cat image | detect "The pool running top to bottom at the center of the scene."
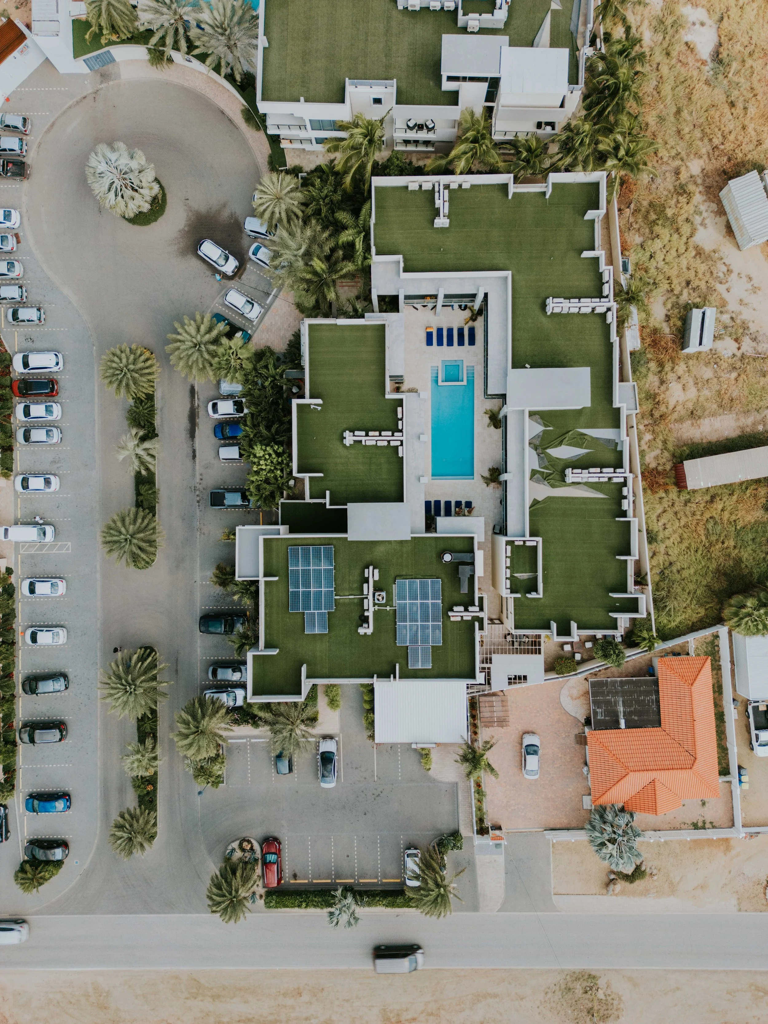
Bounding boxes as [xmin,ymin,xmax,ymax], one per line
[431,358,474,479]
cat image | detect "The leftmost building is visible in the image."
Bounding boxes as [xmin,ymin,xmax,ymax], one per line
[0,8,45,105]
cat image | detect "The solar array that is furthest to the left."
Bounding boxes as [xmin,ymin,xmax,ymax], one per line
[288,546,335,633]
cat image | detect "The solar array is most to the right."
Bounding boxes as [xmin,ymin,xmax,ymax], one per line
[395,580,442,668]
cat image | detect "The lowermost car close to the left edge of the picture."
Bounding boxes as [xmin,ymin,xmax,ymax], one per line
[0,920,26,943]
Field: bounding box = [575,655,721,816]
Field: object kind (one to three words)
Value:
house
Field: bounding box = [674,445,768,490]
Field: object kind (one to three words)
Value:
shipping container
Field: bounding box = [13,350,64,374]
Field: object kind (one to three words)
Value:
car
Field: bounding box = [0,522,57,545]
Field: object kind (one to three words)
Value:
vehicle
